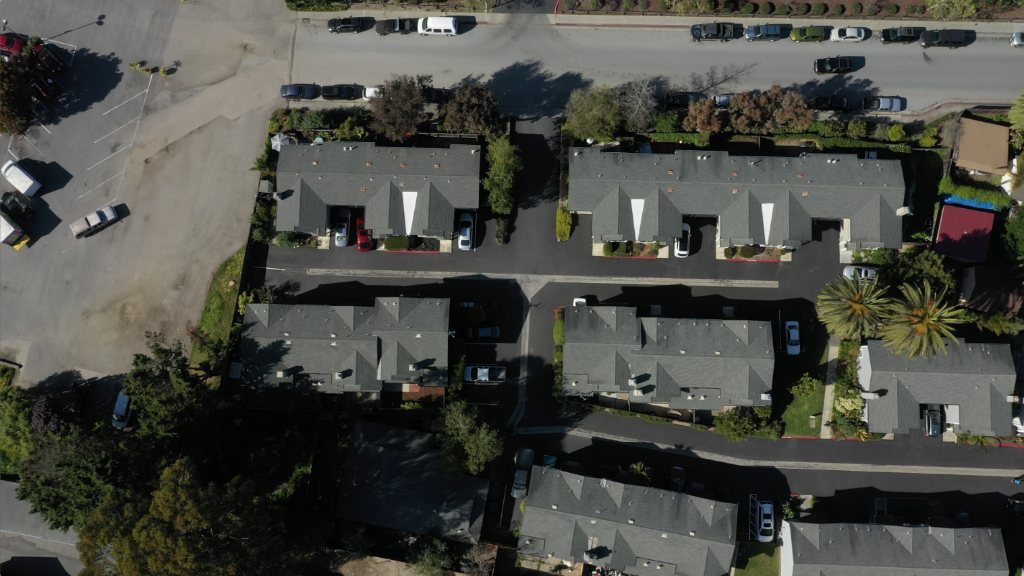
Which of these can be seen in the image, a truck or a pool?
truck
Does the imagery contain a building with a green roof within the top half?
No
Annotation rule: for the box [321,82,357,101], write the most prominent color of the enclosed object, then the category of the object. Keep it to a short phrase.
black car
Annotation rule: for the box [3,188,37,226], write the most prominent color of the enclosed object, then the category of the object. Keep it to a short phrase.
black car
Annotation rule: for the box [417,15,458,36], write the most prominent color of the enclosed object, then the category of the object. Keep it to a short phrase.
white vehicle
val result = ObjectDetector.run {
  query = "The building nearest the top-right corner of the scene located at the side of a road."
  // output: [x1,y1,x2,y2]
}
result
[938,116,1010,179]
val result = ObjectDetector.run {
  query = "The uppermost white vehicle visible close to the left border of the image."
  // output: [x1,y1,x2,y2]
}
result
[0,155,41,195]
